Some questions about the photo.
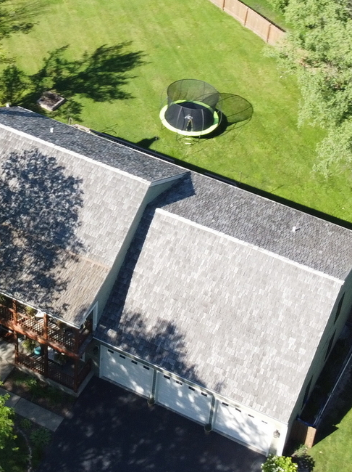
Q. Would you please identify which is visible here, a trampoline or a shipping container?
trampoline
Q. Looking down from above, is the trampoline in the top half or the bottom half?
top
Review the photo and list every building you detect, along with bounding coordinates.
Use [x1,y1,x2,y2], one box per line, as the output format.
[0,108,352,458]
